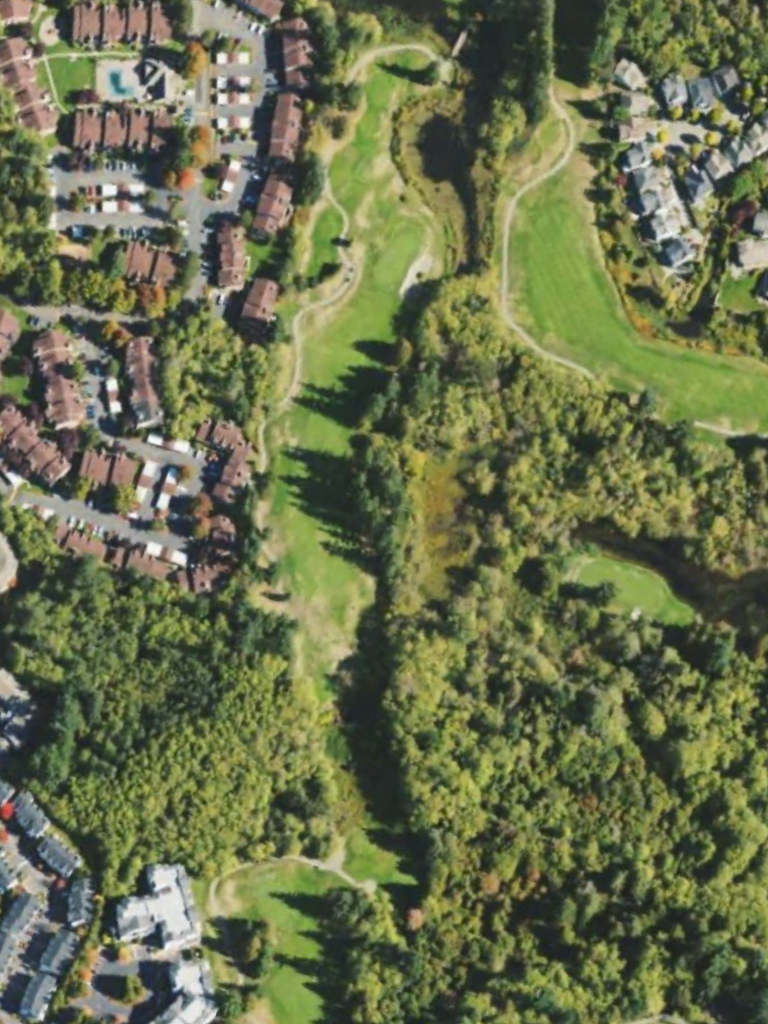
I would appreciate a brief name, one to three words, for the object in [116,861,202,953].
building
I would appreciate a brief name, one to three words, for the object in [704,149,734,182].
house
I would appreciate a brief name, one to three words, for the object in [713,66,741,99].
house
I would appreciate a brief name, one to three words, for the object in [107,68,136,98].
swimming pool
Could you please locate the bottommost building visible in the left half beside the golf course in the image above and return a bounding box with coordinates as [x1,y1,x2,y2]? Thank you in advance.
[153,955,220,1024]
